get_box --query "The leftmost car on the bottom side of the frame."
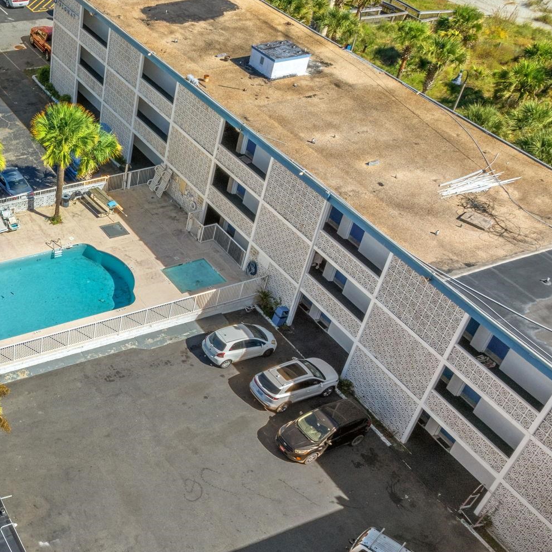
[206,319,281,366]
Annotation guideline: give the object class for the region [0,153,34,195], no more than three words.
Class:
car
